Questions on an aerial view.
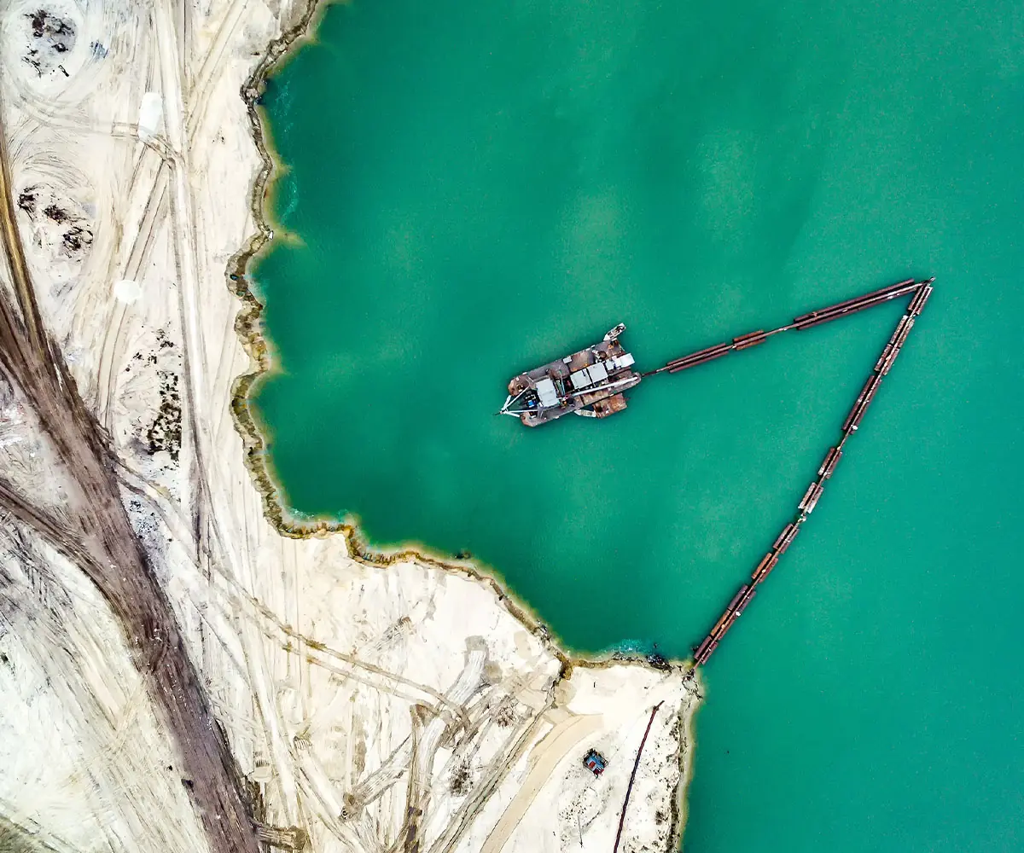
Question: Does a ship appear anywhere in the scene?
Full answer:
Yes, looking at the shot, I can spot a ship.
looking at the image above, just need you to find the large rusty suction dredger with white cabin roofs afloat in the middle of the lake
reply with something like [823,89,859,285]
[496,339,642,427]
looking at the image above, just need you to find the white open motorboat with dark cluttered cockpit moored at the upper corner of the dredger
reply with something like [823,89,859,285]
[604,323,627,342]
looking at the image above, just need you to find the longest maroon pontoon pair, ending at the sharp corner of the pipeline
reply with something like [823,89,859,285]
[782,279,922,330]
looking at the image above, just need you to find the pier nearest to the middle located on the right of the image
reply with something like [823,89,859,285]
[641,343,734,376]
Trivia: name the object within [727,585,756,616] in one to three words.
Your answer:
pier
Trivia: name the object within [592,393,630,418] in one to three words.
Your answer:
ship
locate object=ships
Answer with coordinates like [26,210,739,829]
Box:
[592,393,630,418]
[496,339,642,427]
